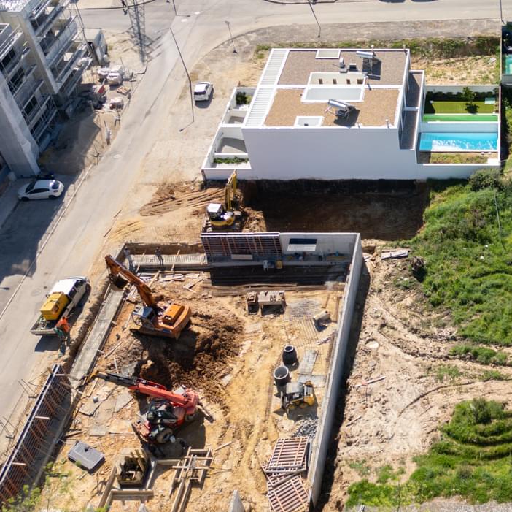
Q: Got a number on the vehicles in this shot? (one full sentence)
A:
The picture shows 7 vehicles.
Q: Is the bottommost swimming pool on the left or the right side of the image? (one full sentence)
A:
The bottommost swimming pool sits on the right side.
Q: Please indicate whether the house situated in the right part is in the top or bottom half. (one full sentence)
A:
It is in the top half that the house situated in the right part appears.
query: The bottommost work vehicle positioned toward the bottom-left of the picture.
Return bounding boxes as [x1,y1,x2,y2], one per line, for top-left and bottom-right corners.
[68,377,205,460]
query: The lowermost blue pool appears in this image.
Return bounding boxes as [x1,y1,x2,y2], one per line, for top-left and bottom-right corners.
[423,133,499,154]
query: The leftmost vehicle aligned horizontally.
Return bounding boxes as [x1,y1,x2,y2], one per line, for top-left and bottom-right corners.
[15,176,66,201]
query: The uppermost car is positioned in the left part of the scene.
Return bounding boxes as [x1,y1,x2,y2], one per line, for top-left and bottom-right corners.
[190,80,216,104]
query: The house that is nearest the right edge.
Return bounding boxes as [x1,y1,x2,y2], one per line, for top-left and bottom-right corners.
[242,47,429,181]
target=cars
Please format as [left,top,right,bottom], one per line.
[190,80,216,104]
[15,176,66,201]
